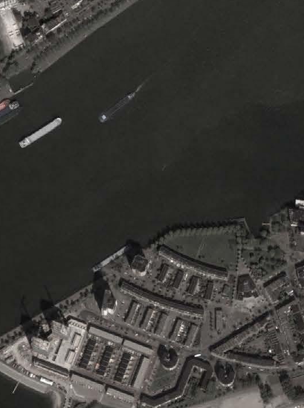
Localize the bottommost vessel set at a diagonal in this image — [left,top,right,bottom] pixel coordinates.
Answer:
[20,119,61,147]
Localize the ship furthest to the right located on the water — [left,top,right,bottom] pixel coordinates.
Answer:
[99,93,136,121]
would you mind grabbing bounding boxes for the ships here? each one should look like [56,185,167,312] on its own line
[0,104,20,120]
[0,99,10,108]
[20,119,61,147]
[99,93,136,121]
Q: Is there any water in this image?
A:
Yes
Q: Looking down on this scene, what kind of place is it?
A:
residential area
